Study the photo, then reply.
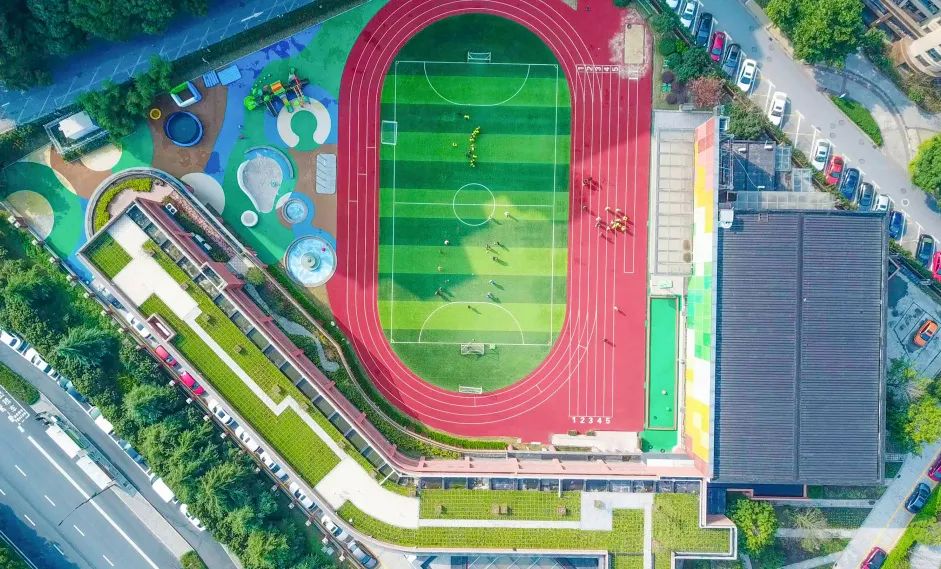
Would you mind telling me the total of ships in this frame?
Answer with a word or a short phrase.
0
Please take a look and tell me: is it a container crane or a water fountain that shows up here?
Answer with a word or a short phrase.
water fountain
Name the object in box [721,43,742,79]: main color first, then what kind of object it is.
blue car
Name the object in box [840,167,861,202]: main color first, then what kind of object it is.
blue car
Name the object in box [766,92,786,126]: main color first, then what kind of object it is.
white car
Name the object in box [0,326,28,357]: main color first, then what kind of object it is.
white car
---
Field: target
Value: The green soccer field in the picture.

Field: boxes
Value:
[379,12,571,393]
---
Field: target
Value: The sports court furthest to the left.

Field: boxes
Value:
[641,296,680,452]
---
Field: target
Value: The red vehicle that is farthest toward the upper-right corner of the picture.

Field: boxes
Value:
[823,154,844,185]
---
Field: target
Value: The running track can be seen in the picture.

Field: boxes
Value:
[326,0,663,440]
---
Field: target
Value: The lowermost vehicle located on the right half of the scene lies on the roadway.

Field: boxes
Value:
[861,544,888,569]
